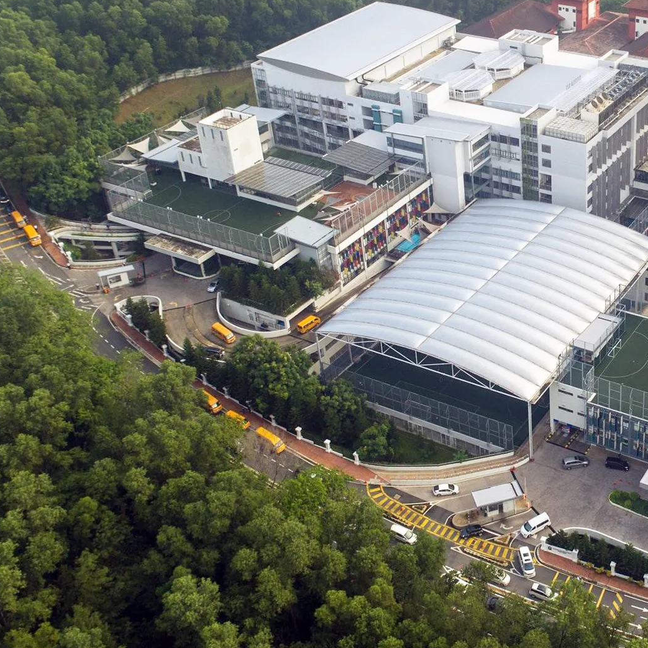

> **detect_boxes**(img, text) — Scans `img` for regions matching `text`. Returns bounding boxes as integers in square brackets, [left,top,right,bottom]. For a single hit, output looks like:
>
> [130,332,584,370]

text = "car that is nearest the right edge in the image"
[605,453,632,471]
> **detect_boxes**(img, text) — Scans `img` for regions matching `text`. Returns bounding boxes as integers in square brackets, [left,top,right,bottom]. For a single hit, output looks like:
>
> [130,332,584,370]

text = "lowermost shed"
[472,480,523,521]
